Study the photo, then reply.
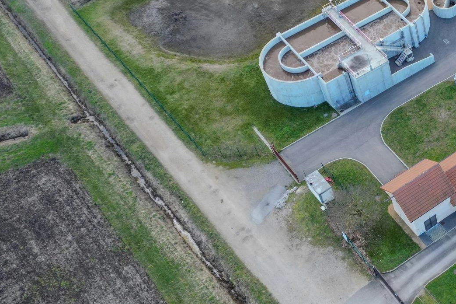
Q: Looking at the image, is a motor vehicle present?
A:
No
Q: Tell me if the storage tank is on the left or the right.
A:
right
